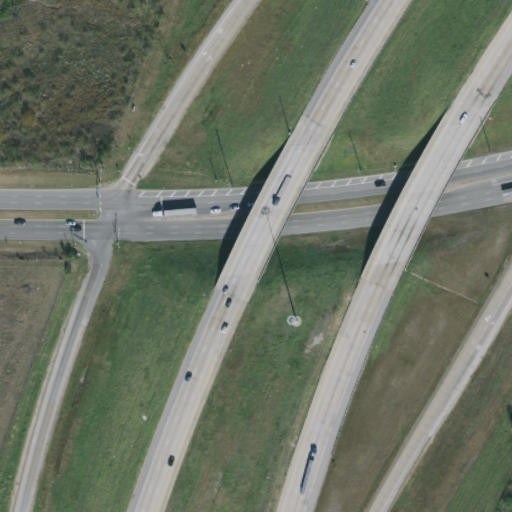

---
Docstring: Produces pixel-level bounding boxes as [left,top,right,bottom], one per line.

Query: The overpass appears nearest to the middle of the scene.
[214,113,336,304]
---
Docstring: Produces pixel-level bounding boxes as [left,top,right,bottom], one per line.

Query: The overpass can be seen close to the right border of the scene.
[358,98,488,298]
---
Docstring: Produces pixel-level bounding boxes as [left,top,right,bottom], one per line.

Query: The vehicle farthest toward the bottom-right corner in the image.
[301,444,318,493]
